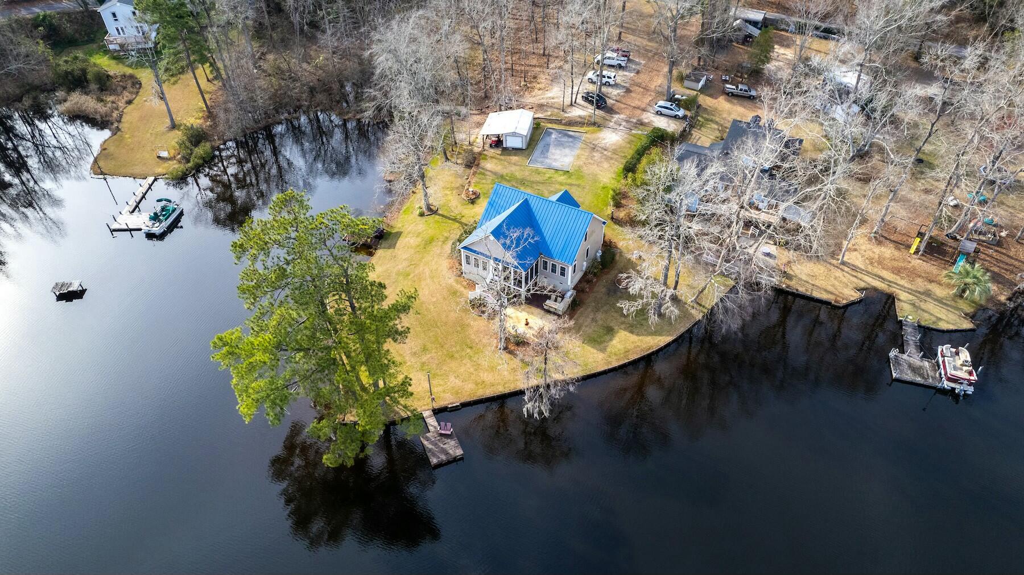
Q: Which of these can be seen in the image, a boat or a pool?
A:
boat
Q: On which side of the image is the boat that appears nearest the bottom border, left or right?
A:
right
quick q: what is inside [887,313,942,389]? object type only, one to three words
pier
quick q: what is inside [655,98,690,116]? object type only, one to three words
car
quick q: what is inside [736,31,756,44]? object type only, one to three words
vehicle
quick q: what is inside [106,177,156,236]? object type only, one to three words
pier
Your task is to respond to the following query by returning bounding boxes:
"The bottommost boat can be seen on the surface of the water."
[933,347,978,405]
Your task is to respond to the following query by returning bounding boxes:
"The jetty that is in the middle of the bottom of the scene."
[420,410,465,471]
